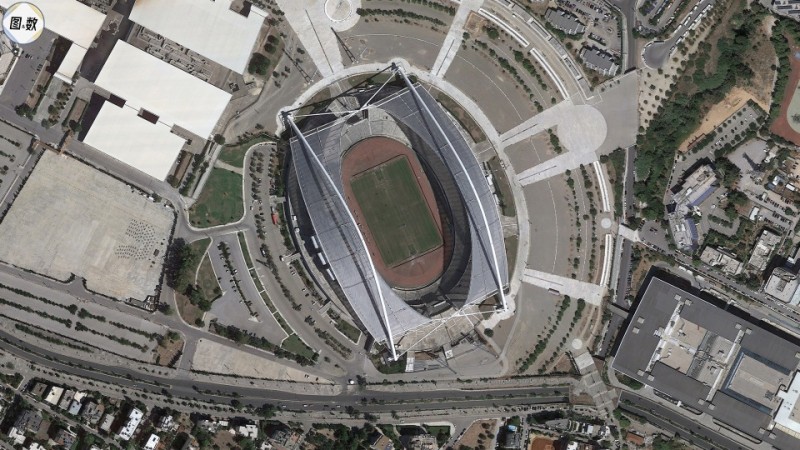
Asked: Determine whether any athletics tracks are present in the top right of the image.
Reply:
Yes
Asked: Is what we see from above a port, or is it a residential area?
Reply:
residential area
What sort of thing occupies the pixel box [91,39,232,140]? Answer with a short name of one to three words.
building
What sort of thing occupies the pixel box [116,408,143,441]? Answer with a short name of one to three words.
house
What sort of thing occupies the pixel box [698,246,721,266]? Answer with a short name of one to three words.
house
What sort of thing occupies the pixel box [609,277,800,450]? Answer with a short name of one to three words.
building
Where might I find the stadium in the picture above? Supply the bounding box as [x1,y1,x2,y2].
[284,63,511,366]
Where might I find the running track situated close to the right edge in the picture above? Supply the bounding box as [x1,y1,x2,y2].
[769,39,800,148]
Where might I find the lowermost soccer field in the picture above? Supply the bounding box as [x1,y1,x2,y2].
[350,154,443,267]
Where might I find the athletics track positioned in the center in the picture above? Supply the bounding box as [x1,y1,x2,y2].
[341,136,454,290]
